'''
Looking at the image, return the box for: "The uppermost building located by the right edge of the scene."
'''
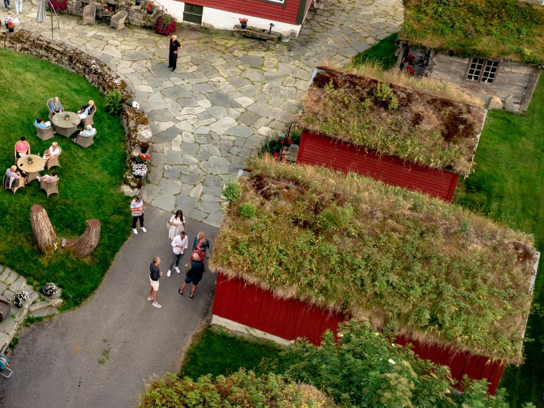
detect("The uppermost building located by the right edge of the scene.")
[391,0,544,110]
